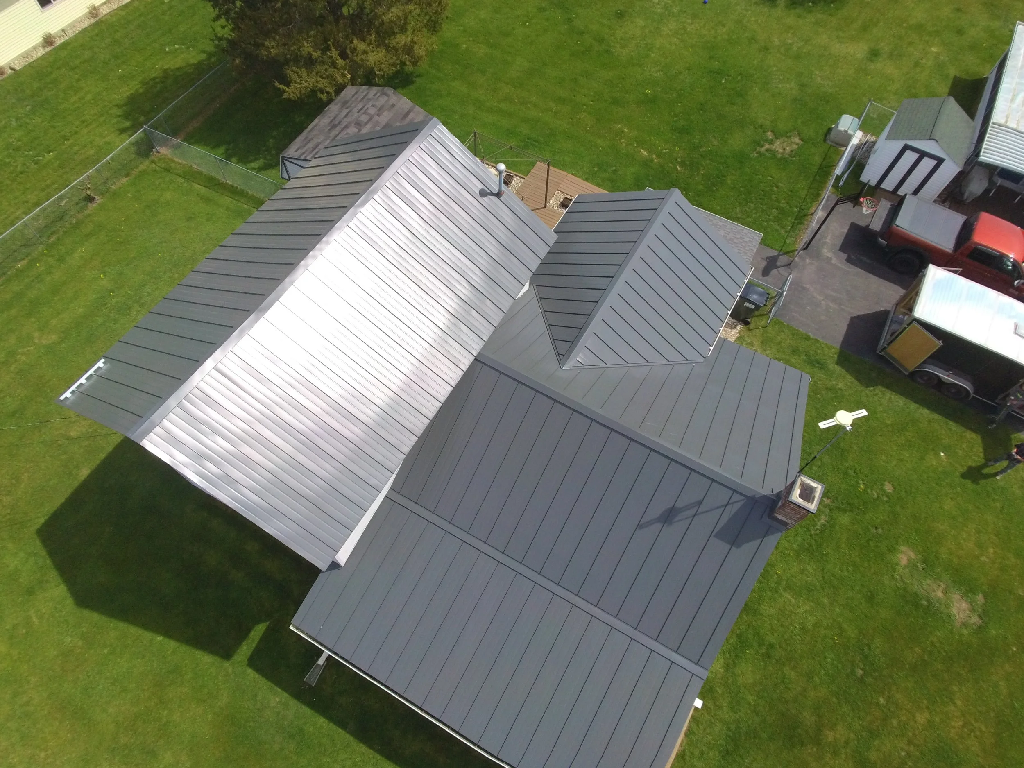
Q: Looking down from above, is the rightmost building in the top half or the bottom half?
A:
top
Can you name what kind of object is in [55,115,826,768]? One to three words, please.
house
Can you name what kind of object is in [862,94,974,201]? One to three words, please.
shed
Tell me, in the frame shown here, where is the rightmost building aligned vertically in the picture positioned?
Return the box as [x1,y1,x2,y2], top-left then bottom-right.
[945,19,1024,207]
